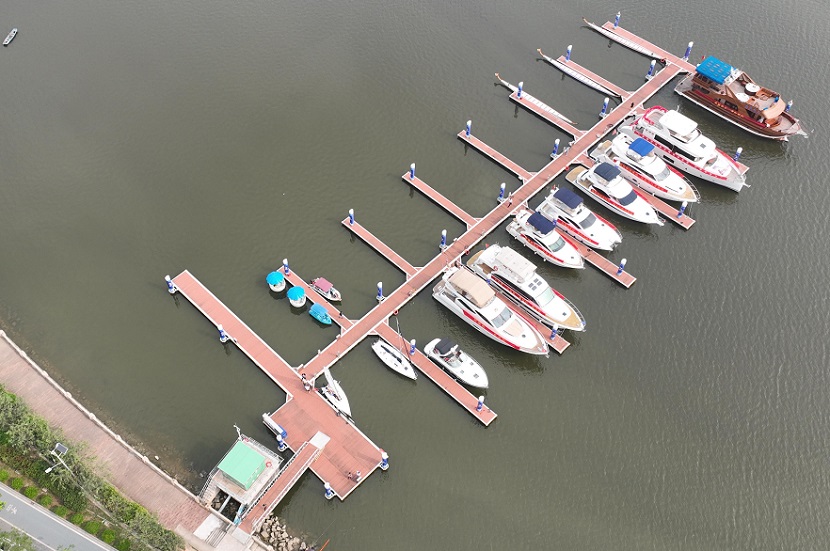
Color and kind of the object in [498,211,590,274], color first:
white boat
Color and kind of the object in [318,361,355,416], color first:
white boat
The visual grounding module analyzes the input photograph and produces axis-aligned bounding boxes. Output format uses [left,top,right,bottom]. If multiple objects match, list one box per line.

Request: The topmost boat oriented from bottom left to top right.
[2,28,17,46]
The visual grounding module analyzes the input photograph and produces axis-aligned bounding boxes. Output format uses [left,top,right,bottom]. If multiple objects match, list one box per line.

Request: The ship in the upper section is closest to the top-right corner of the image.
[672,53,809,139]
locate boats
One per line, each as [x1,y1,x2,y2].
[585,126,704,205]
[310,276,339,303]
[457,243,588,335]
[318,361,355,416]
[498,211,590,274]
[524,179,622,253]
[494,70,580,126]
[306,301,331,327]
[558,154,669,227]
[370,319,419,379]
[2,28,17,46]
[612,94,748,190]
[422,265,550,362]
[288,288,306,308]
[268,274,286,293]
[536,45,621,100]
[582,13,665,64]
[425,338,489,390]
